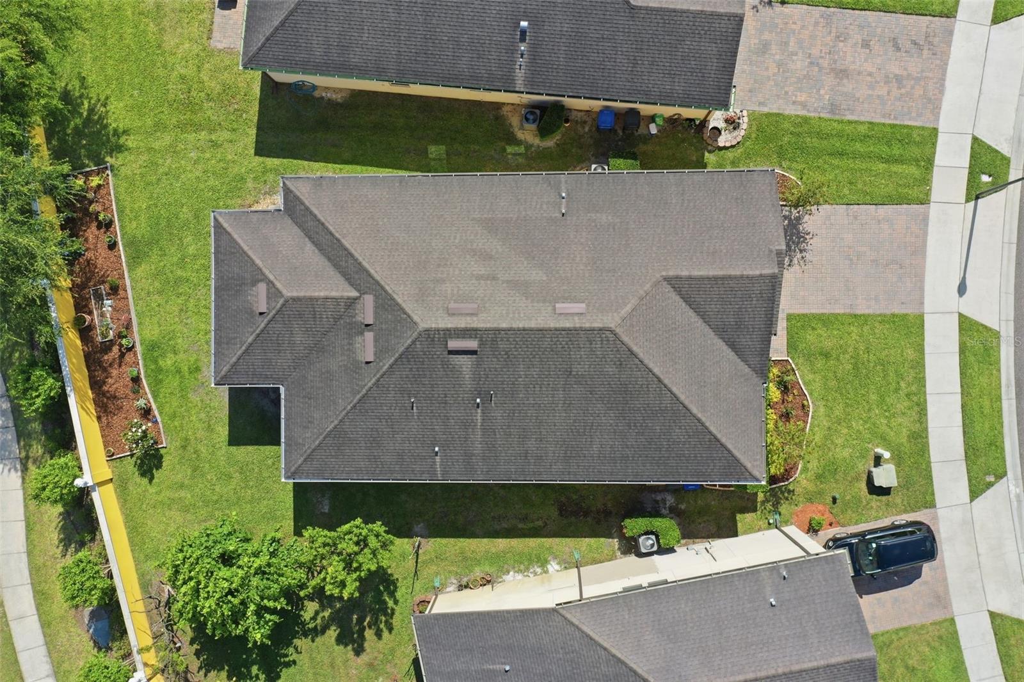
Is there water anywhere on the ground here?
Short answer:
No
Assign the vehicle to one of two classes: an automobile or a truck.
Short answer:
automobile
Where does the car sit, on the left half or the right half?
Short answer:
right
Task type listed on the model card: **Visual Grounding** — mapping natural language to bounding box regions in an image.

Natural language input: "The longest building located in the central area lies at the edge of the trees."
[209,169,788,484]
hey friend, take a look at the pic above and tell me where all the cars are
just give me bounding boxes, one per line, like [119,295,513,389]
[821,519,940,583]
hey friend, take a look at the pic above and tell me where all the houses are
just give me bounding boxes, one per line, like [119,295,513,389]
[209,169,788,484]
[409,526,883,682]
[239,0,750,118]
